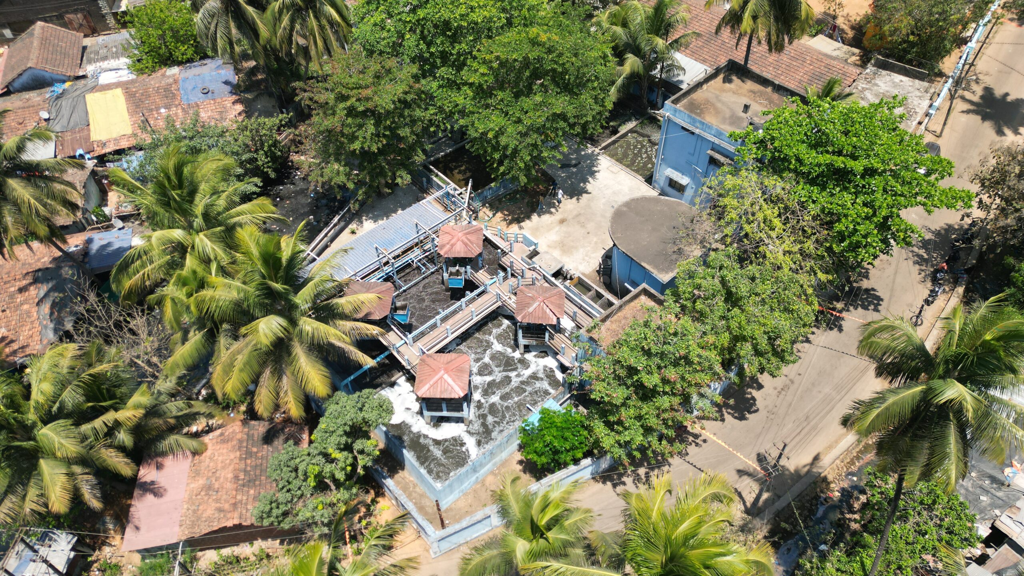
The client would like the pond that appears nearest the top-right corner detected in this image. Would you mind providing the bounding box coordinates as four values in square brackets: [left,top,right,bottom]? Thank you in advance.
[600,117,663,184]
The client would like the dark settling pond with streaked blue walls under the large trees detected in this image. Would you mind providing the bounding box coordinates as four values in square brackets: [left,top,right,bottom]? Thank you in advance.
[417,132,530,210]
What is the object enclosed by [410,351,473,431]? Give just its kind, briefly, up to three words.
gazebo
